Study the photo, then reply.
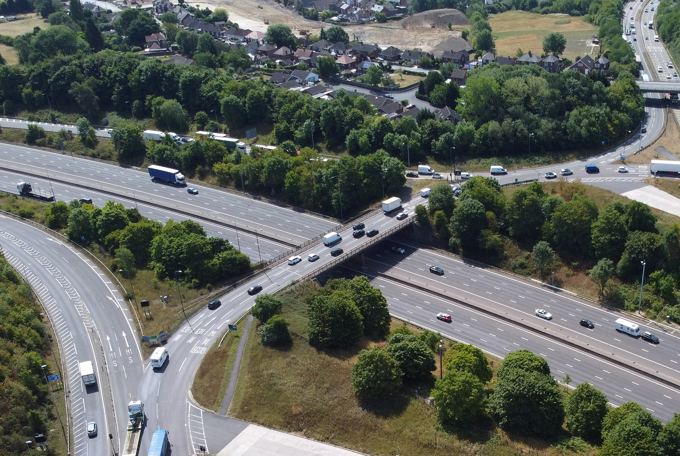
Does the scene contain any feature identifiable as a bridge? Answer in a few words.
Yes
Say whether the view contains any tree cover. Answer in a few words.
Yes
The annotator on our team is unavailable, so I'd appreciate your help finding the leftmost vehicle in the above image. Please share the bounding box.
[14,184,52,199]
